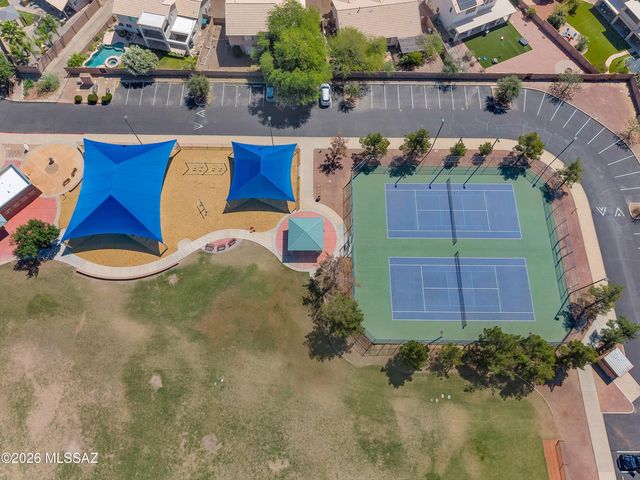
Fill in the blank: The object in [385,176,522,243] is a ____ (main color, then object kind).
blue tennis court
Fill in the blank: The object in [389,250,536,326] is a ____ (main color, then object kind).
blue tennis court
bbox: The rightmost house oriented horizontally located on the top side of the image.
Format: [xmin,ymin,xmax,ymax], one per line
[417,0,518,43]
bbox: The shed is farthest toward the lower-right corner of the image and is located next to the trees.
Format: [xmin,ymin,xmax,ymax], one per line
[595,348,633,378]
